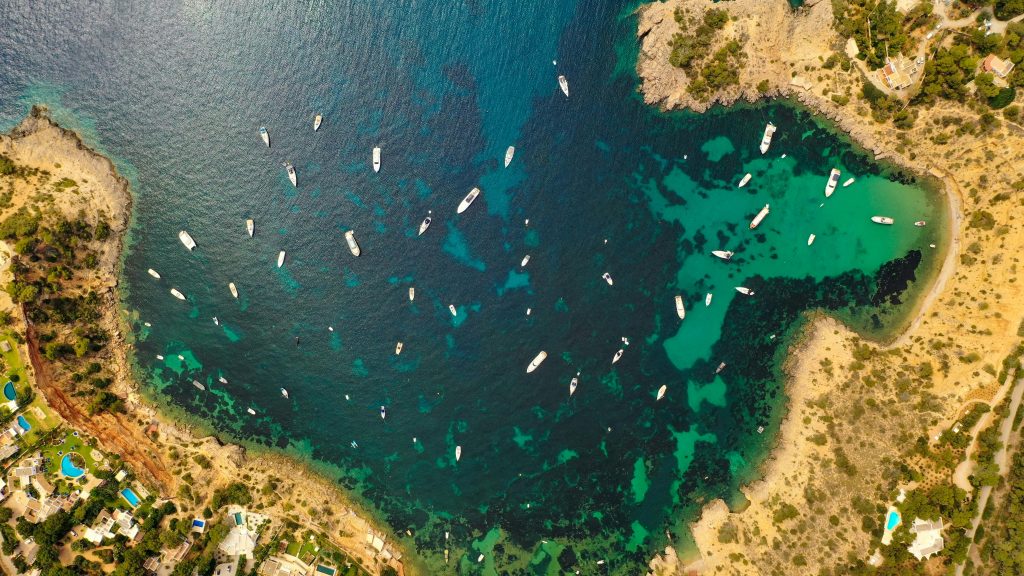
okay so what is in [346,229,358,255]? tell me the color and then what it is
white boat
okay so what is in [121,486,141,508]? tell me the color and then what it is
blue swimming pool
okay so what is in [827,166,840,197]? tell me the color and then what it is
white boat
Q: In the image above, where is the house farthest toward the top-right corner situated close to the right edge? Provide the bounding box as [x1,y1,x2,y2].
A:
[981,54,1015,76]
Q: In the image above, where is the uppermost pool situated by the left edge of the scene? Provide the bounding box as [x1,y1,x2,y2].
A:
[3,382,18,401]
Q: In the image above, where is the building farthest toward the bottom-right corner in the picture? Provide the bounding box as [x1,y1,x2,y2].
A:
[907,517,943,560]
